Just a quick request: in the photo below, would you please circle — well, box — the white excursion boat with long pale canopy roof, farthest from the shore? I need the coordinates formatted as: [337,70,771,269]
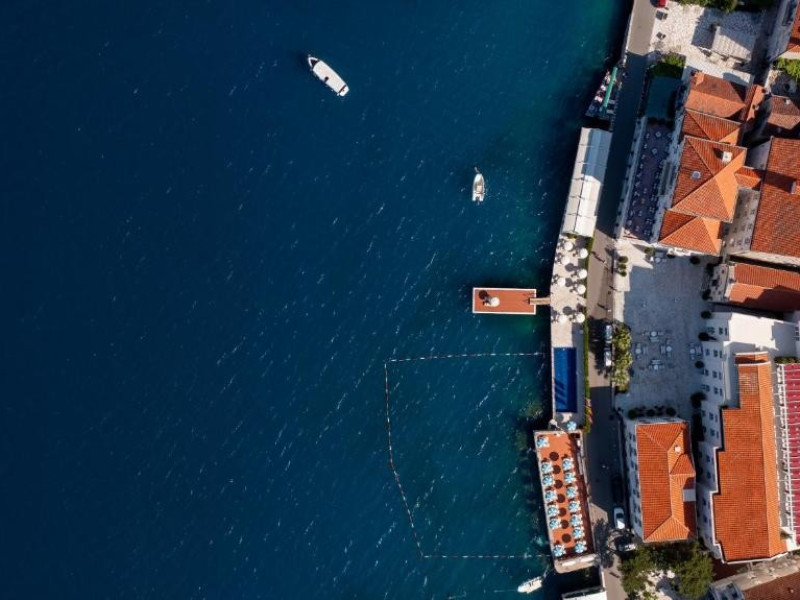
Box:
[308,55,353,100]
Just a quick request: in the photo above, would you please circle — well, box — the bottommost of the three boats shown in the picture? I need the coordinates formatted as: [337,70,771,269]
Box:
[517,573,544,591]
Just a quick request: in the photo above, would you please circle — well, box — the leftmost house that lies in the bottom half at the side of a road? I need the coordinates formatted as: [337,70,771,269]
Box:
[627,420,697,542]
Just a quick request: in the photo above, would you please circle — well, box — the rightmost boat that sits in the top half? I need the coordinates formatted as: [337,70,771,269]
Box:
[473,166,485,203]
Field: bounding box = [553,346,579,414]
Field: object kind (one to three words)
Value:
swimming pool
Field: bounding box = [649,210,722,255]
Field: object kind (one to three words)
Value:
house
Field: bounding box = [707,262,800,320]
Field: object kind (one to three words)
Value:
house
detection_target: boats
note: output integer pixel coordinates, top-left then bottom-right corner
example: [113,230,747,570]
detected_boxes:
[517,573,544,591]
[473,166,485,203]
[308,55,353,100]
